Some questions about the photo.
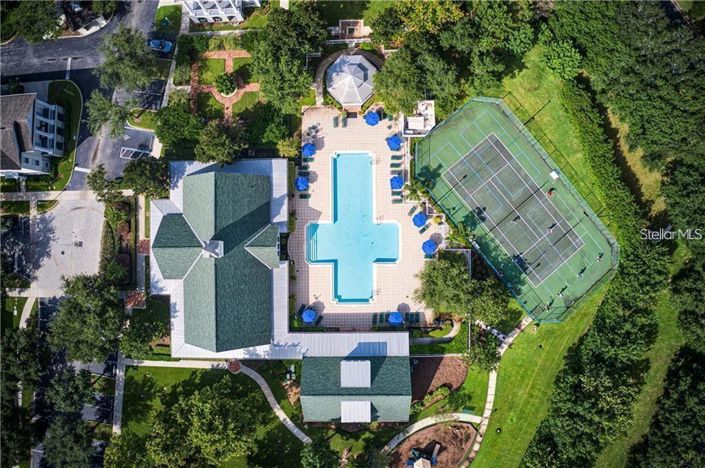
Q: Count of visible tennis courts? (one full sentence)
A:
In total, 1 tennis court can be seen.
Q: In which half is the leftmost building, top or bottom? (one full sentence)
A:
You can find the leftmost building in the top half.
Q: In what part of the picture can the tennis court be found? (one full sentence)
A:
Look in the right portion of the view to spot the tennis court.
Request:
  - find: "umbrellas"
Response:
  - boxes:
[301,308,317,323]
[302,142,317,158]
[386,135,402,151]
[294,176,310,192]
[389,175,404,191]
[364,111,379,126]
[412,212,428,228]
[388,310,403,326]
[421,239,437,255]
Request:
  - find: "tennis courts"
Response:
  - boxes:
[414,103,611,319]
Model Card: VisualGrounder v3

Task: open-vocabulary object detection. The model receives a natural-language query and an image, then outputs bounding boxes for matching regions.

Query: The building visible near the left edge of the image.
[0,92,67,181]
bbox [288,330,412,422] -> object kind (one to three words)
building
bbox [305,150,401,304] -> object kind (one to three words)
swimming pool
